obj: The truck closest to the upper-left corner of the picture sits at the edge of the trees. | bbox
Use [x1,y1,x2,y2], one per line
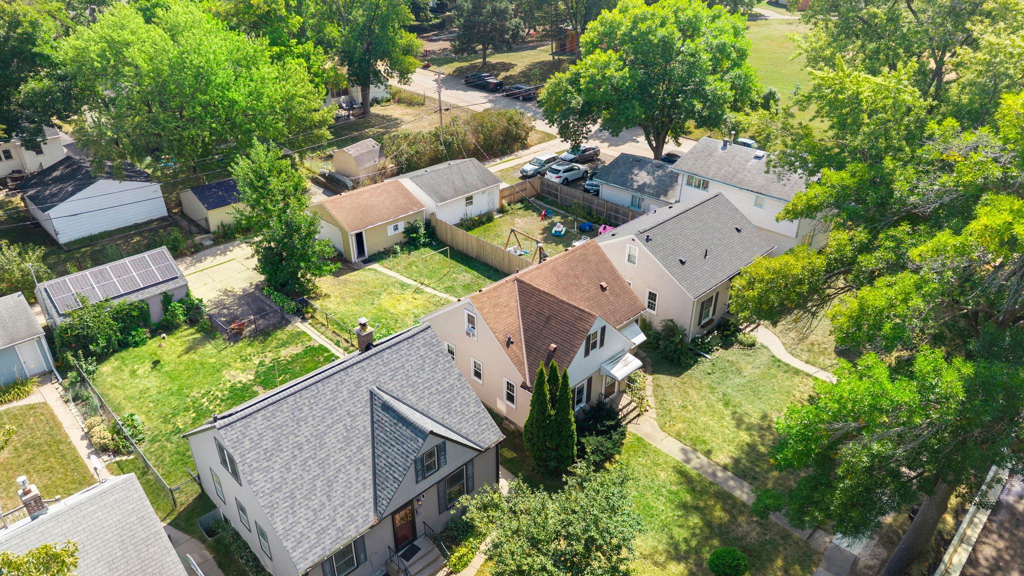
[464,70,504,91]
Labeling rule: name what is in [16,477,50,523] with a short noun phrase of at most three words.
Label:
chimney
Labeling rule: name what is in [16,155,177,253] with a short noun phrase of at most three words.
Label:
building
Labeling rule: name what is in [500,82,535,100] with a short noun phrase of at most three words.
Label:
car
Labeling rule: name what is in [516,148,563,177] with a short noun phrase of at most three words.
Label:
car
